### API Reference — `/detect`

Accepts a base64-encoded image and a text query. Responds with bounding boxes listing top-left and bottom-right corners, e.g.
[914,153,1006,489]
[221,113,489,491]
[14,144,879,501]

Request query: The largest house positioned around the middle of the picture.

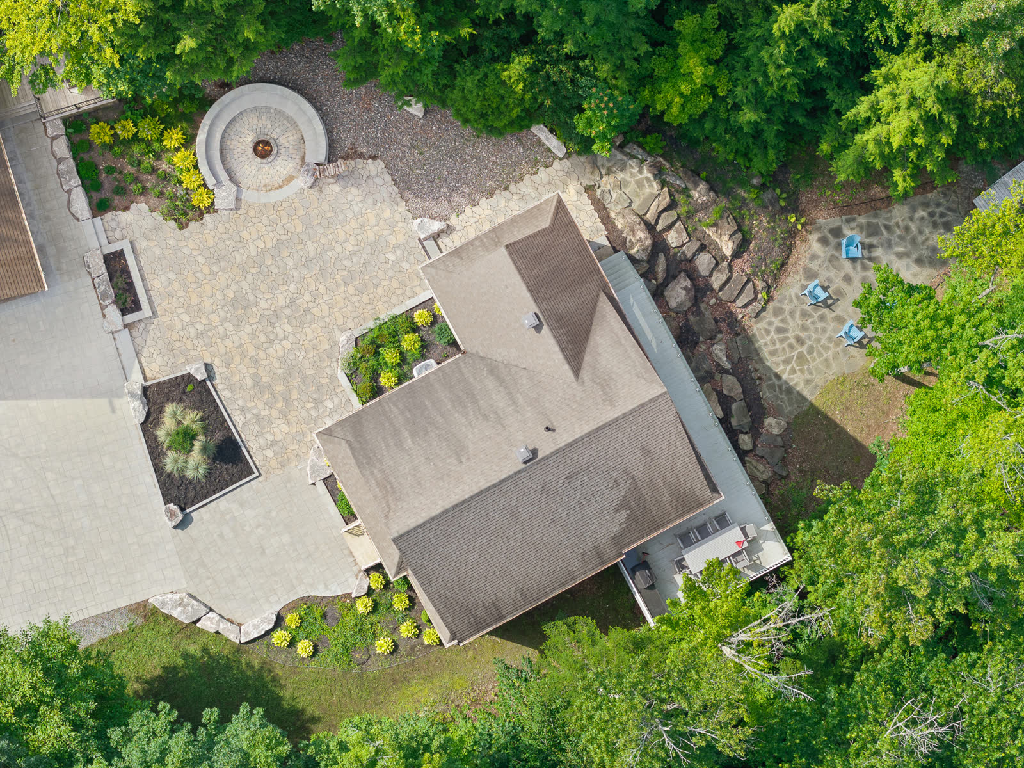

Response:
[315,191,724,650]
